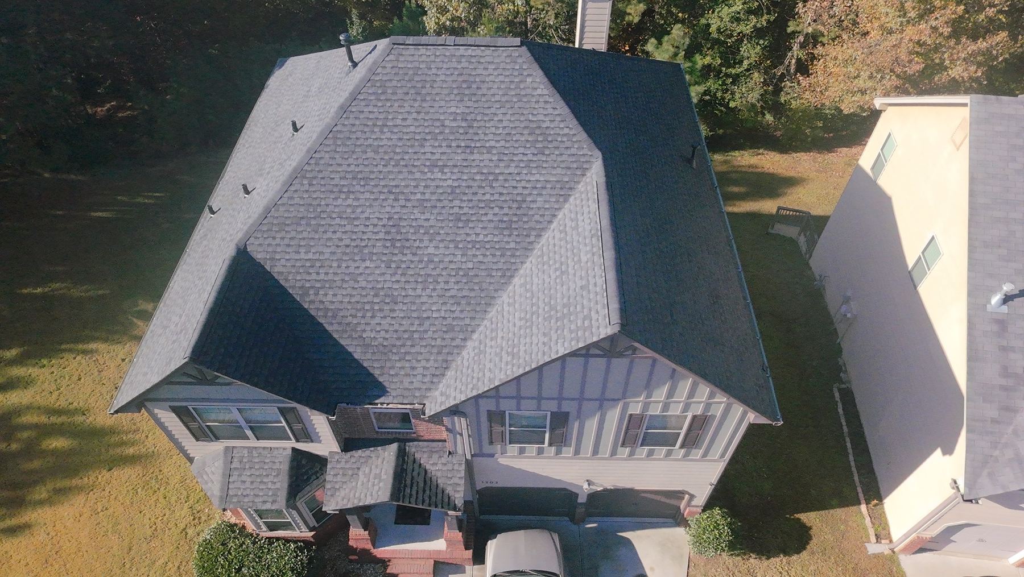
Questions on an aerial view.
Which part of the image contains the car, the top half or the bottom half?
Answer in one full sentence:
Seen from above, the car lies in the bottom half of the view.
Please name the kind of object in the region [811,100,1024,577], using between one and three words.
house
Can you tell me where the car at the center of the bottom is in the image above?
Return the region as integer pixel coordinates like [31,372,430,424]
[485,530,560,577]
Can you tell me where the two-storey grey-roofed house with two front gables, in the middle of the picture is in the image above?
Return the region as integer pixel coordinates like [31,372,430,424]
[107,0,785,577]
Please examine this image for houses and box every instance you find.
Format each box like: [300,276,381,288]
[811,100,1024,577]
[107,0,785,577]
